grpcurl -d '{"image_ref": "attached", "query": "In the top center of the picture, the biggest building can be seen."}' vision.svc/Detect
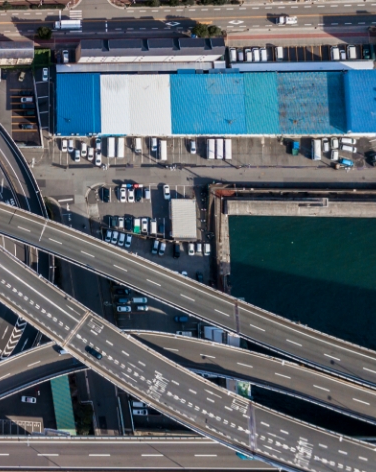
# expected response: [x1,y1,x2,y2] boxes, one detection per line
[53,66,343,144]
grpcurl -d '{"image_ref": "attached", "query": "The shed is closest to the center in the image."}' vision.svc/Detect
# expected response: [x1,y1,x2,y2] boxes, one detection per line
[168,199,197,238]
